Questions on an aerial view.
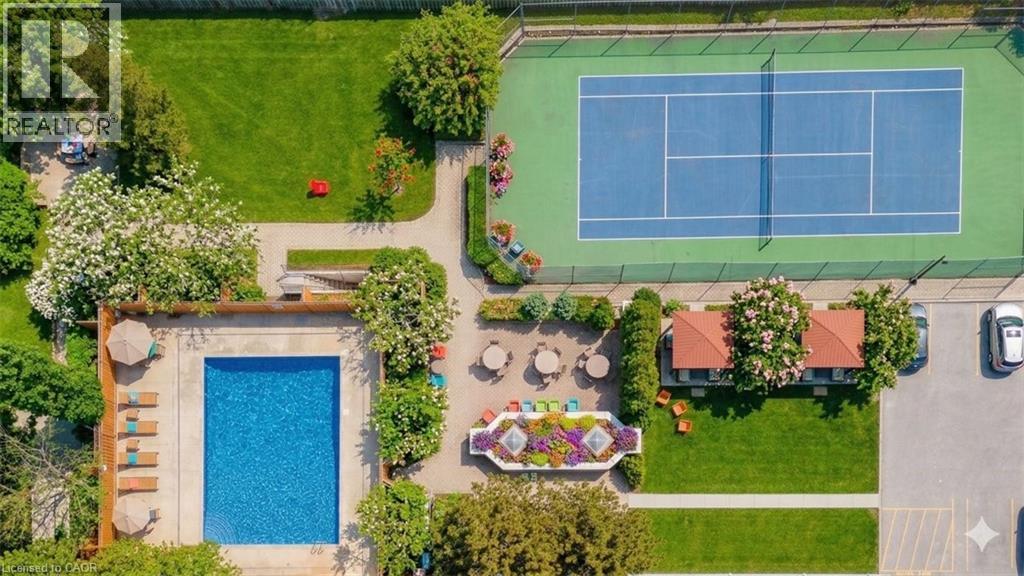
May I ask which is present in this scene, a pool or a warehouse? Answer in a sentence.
I can see a pool in this picture.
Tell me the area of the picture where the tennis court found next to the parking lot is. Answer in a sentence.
The tennis court found next to the parking lot is located in the top right region of the scene.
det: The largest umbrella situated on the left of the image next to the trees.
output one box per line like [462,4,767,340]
[107,318,156,367]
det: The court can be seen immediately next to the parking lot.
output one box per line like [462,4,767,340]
[489,30,1024,284]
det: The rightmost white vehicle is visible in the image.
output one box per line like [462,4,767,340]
[989,302,1024,374]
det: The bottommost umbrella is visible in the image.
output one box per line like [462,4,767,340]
[112,492,151,530]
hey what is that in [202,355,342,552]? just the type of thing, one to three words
swimming pool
